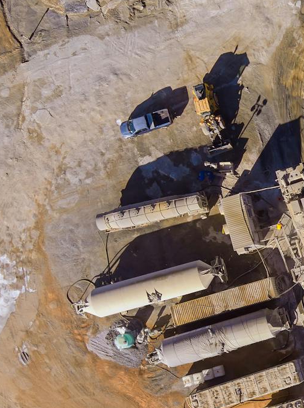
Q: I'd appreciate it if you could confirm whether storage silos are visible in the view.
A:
Yes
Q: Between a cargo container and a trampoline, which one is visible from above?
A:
cargo container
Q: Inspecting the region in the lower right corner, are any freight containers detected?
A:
Yes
